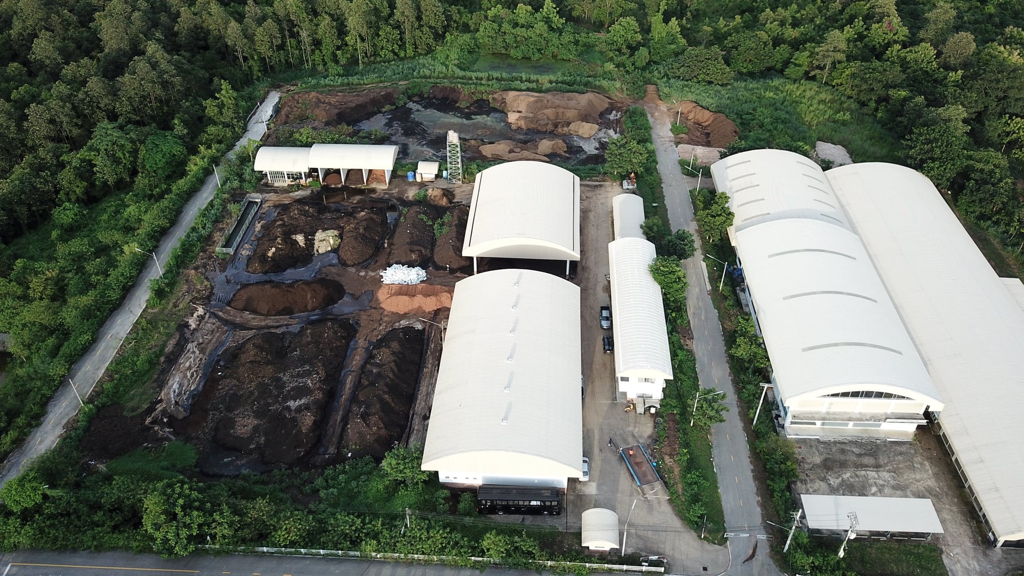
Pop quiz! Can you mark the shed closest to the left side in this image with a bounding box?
[250,147,314,187]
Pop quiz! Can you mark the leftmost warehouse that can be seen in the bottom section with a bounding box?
[421,263,584,495]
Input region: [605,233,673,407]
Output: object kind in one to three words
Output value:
house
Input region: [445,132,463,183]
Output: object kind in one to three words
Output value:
water tower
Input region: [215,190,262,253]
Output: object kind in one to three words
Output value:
water tank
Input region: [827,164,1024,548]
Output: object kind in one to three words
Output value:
building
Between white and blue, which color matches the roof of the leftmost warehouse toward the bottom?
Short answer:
white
